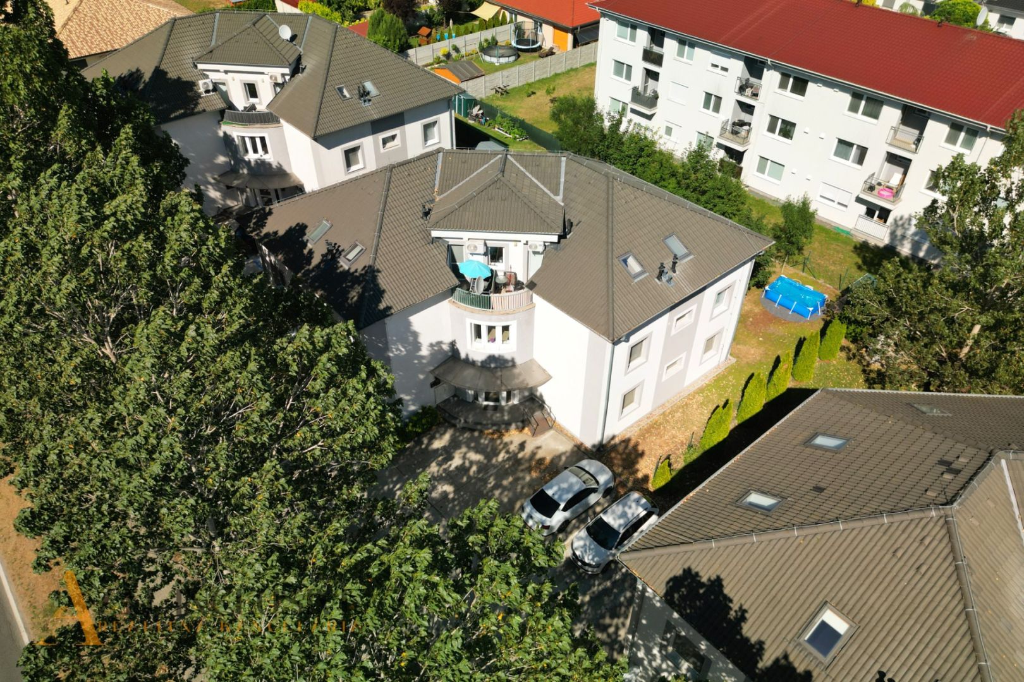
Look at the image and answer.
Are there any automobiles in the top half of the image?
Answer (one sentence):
No, I can find no automobile in the top half of the image.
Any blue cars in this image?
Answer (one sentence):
No, there is no blue car in the image.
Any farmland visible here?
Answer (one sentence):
No, there is no farmland in the image.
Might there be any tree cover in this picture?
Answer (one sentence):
Yes, there is tree cover in the image.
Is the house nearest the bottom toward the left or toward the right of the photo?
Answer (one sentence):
You can find the house nearest the bottom on the right side of the picture.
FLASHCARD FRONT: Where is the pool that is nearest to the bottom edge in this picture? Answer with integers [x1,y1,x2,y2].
[755,274,832,324]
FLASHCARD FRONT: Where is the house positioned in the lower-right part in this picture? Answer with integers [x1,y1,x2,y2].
[599,382,1024,682]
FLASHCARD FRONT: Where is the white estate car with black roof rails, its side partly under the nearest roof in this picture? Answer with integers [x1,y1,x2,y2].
[564,487,666,577]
